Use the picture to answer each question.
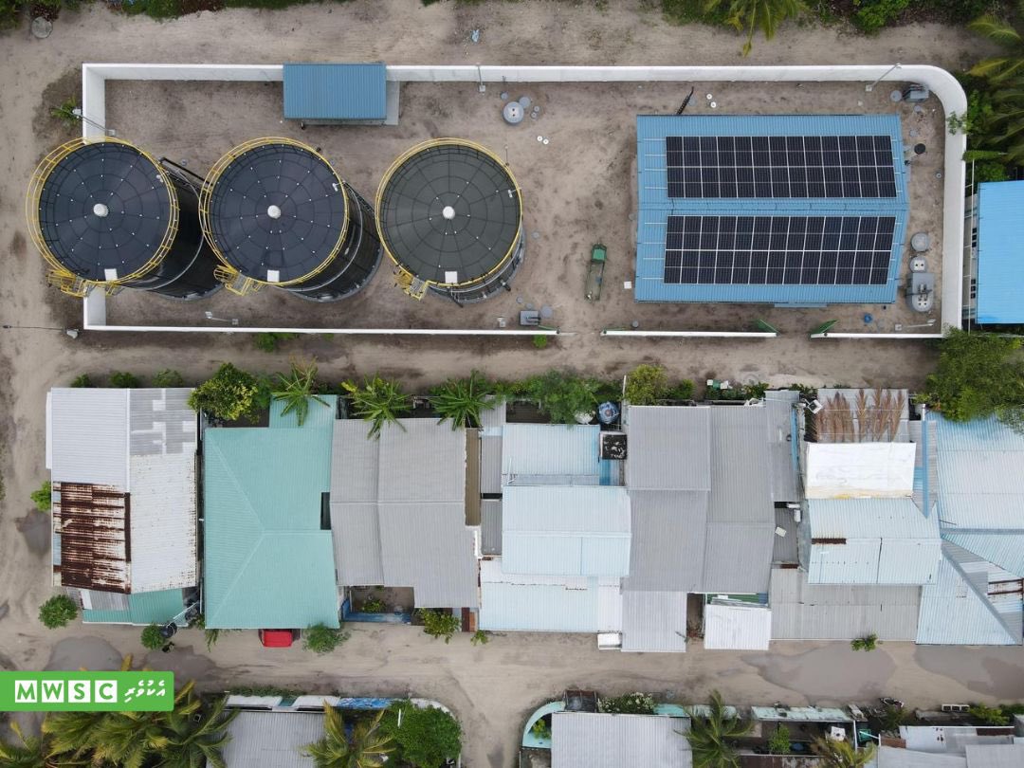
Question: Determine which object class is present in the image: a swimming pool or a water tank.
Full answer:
Looking from above, you can make out a water tank.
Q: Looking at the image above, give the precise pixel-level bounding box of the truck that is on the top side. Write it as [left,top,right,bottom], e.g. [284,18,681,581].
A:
[584,245,610,301]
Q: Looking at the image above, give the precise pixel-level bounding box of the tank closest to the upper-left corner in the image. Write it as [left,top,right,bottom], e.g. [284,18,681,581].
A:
[24,132,234,301]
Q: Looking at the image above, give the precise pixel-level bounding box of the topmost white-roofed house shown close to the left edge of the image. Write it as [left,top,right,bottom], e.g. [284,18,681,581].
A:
[50,388,198,594]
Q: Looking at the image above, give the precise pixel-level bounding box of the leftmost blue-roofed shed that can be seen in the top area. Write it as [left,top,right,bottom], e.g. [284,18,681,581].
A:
[283,62,390,131]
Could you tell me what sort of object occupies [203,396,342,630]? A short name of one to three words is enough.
house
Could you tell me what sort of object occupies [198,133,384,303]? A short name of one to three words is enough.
water tank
